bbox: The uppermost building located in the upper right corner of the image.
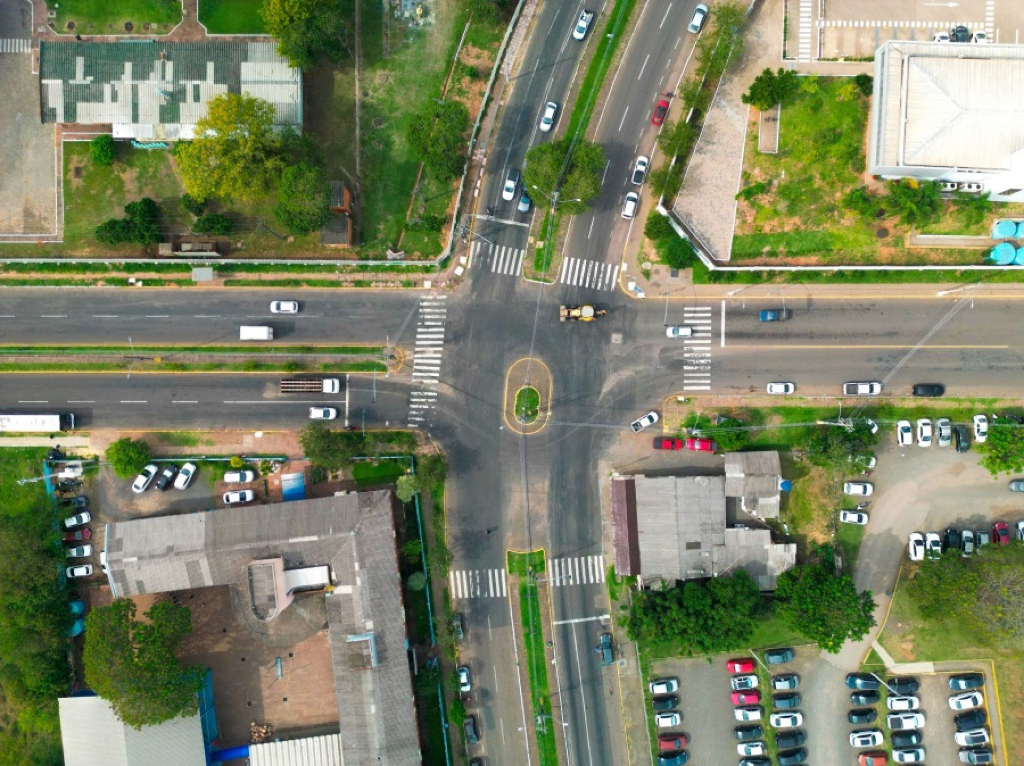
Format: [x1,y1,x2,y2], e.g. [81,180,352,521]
[870,40,1024,174]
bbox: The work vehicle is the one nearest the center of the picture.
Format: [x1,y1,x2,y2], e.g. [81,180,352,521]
[560,306,608,322]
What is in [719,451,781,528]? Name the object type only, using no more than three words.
house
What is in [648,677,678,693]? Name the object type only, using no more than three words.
car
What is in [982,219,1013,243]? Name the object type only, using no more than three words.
water tank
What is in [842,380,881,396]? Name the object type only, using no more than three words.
vehicle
